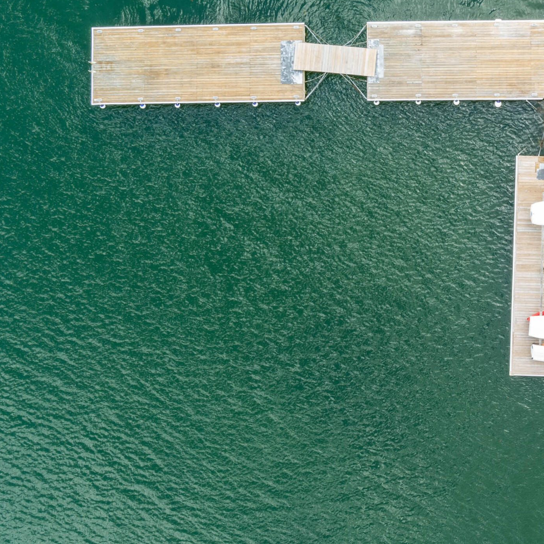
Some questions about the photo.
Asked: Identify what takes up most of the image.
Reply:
water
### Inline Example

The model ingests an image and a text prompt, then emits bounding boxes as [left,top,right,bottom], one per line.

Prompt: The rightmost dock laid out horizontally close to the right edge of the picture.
[366,19,544,102]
